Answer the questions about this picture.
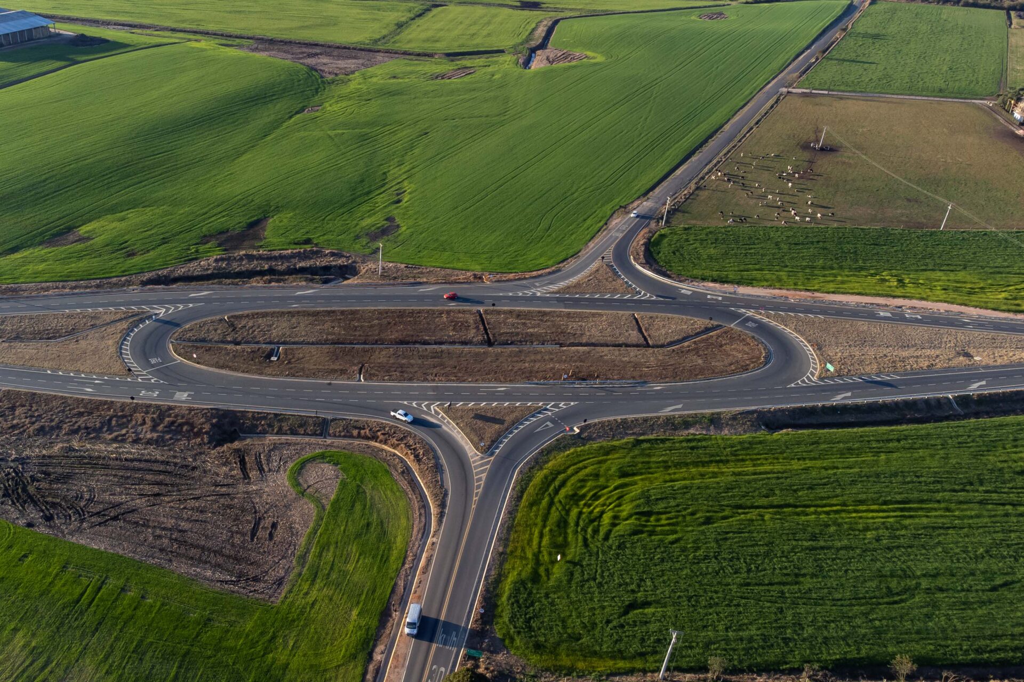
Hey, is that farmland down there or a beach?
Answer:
farmland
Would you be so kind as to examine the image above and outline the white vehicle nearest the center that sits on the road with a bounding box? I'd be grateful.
[390,409,413,424]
